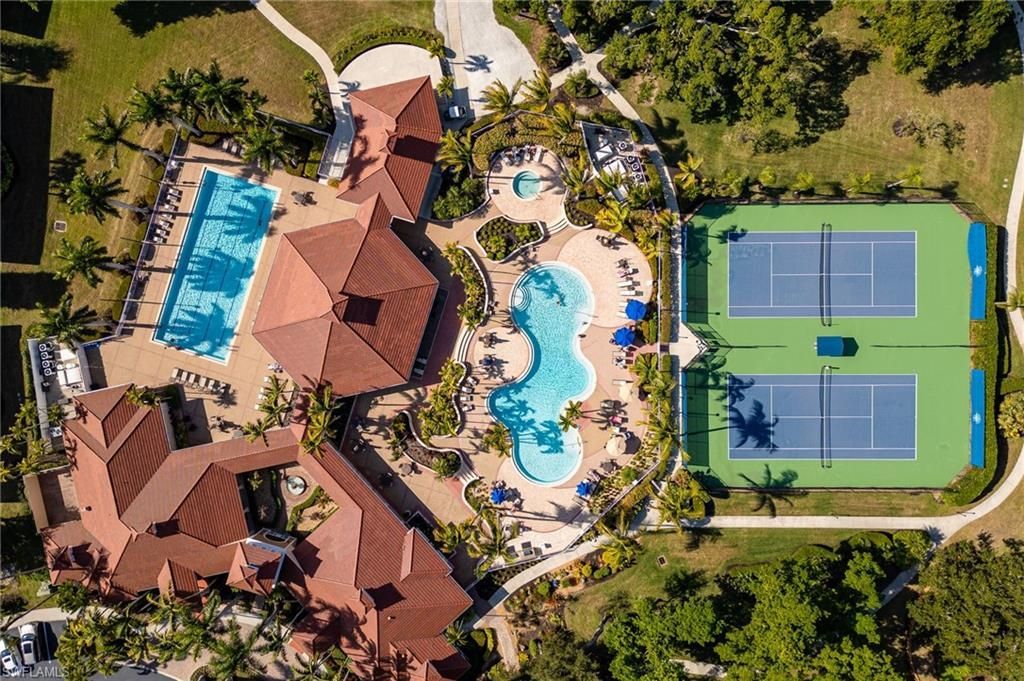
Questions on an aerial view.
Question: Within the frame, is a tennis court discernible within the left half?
No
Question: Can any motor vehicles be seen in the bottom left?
Yes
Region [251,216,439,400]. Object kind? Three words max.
building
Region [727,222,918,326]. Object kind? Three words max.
tennis court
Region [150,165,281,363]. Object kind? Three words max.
swimming pool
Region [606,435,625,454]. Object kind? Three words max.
umbrella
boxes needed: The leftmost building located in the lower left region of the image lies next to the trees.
[39,383,473,681]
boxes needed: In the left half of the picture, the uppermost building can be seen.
[336,74,442,232]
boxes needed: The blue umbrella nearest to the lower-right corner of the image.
[575,481,590,496]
